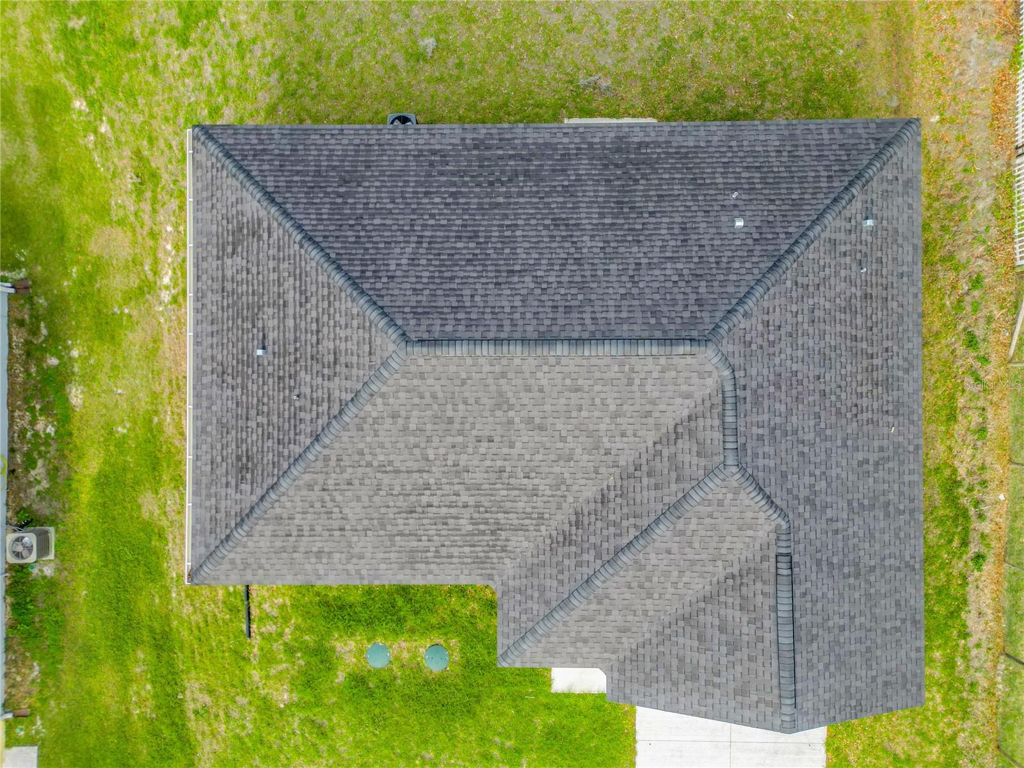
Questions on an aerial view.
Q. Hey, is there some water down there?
No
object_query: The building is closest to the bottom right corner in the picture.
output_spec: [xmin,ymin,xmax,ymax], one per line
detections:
[186,118,925,734]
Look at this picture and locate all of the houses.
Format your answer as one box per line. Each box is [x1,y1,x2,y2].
[186,118,925,734]
[0,282,15,768]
